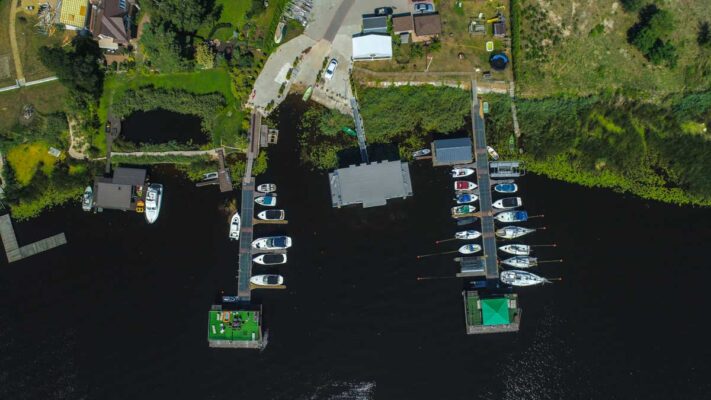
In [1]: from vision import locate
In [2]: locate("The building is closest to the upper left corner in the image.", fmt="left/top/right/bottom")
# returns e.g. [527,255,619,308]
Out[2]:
[53,0,95,33]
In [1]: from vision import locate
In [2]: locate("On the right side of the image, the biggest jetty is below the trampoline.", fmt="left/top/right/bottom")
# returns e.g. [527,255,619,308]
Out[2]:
[452,105,515,278]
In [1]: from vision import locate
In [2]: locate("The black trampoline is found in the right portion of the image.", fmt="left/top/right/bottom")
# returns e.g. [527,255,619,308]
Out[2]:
[490,50,512,70]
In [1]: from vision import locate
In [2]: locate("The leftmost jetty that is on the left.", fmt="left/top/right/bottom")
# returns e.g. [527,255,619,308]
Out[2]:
[0,214,67,262]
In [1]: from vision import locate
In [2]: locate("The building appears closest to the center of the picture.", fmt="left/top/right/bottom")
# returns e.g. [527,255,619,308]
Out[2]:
[329,159,412,208]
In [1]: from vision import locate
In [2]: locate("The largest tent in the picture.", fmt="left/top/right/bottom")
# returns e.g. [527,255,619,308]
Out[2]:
[349,33,394,63]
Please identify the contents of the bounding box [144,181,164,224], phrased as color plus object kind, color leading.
white boat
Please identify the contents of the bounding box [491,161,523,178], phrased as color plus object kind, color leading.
gray boat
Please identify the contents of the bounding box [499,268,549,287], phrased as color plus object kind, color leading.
white boat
